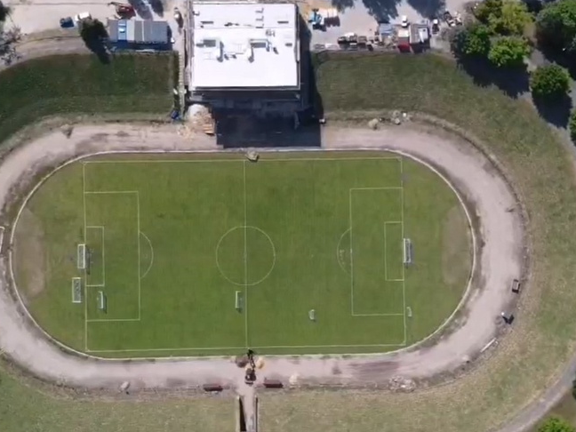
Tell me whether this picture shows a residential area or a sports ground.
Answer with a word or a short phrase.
sports ground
